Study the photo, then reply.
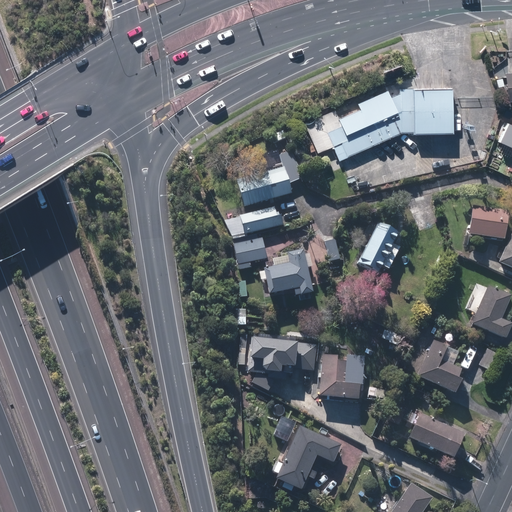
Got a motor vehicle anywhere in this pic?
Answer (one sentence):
Yes, there's a motor vehicle here.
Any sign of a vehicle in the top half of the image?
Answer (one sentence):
Yes, a vehicle can be seen in the top half of the image.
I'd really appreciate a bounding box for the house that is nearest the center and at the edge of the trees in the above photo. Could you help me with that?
[234,237,267,269]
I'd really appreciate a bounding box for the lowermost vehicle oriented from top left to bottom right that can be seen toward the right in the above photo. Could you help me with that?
[465,454,484,472]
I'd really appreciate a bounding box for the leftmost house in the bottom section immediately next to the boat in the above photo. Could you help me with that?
[419,340,467,392]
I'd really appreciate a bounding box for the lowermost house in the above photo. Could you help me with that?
[392,482,434,512]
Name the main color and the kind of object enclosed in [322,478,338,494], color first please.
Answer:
white car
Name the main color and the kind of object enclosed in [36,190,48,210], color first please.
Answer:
blue vehicle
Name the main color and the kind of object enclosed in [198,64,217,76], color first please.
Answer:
white vehicle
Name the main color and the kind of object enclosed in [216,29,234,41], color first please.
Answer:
white vehicle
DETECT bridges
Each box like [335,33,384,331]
[0,70,74,214]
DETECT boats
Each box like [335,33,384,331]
[460,347,476,369]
